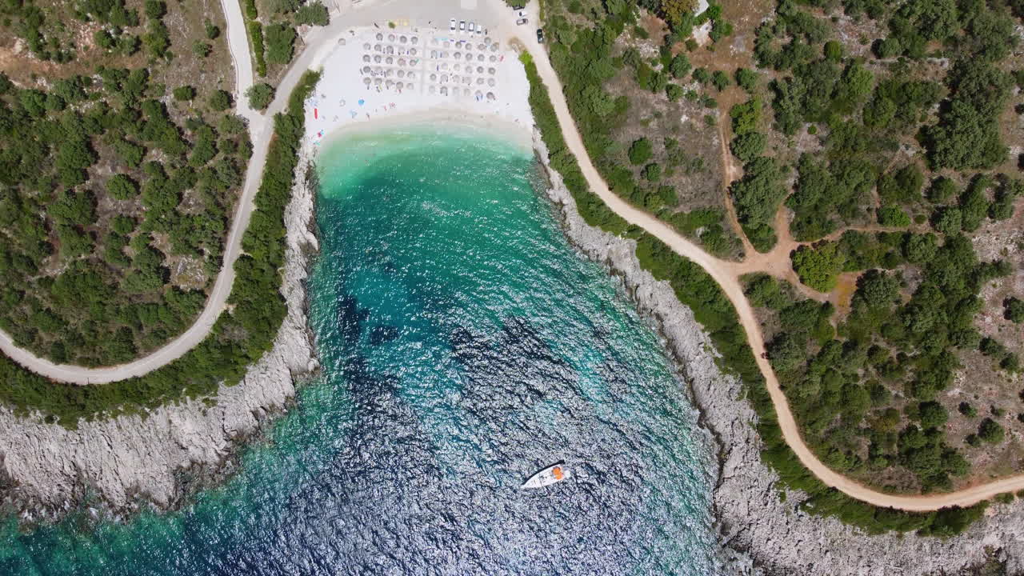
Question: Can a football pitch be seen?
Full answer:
No, no football pitch is visible in the view.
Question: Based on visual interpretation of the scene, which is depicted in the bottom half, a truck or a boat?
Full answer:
Visible in the bottom half is a boat.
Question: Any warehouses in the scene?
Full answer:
No, the frame has no warehouse in it.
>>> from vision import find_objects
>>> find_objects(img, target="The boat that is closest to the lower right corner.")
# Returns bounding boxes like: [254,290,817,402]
[521,464,568,489]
